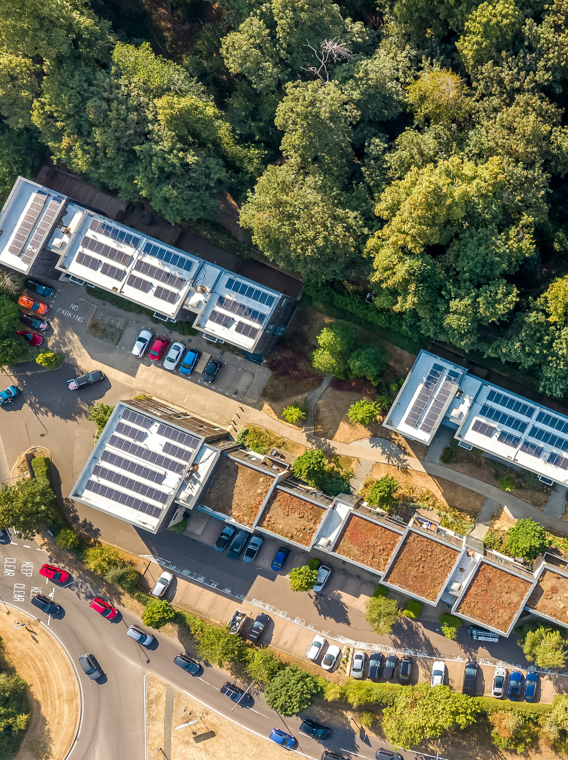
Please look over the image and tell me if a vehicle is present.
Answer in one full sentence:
Yes, the picture does show a vehicle.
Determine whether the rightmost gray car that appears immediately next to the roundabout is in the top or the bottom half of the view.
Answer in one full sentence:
The rightmost gray car that appears immediately next to the roundabout is in the bottom half of the image.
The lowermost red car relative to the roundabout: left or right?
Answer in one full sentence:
To the right of the roundabout is where the lowermost red car appears.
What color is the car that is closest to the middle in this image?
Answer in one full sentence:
In this view, the car that is closest to the middle is black.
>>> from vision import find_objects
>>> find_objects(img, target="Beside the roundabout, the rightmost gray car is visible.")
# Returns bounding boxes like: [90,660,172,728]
[76,650,104,683]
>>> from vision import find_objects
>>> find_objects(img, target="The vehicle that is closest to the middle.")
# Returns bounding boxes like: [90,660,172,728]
[202,357,223,385]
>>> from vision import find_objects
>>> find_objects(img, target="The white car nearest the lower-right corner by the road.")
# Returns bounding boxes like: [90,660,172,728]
[492,665,507,696]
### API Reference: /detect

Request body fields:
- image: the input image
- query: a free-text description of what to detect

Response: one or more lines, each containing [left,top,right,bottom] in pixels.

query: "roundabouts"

[0,607,77,760]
